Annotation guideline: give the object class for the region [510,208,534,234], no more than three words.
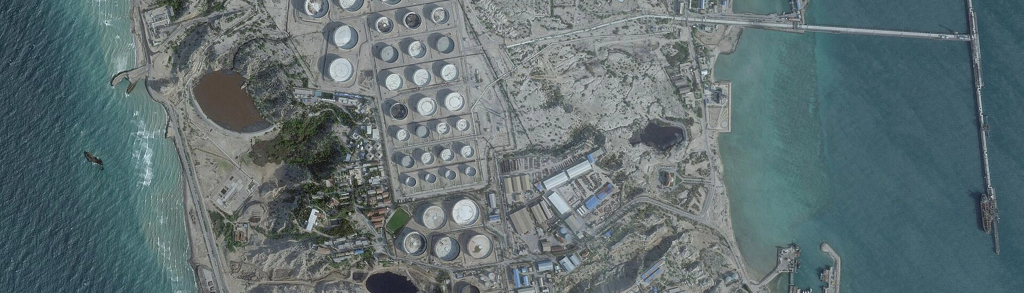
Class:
building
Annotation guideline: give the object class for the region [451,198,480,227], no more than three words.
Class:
storage tank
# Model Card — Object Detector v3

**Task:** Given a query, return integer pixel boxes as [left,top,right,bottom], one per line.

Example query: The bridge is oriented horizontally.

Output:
[794,23,972,40]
